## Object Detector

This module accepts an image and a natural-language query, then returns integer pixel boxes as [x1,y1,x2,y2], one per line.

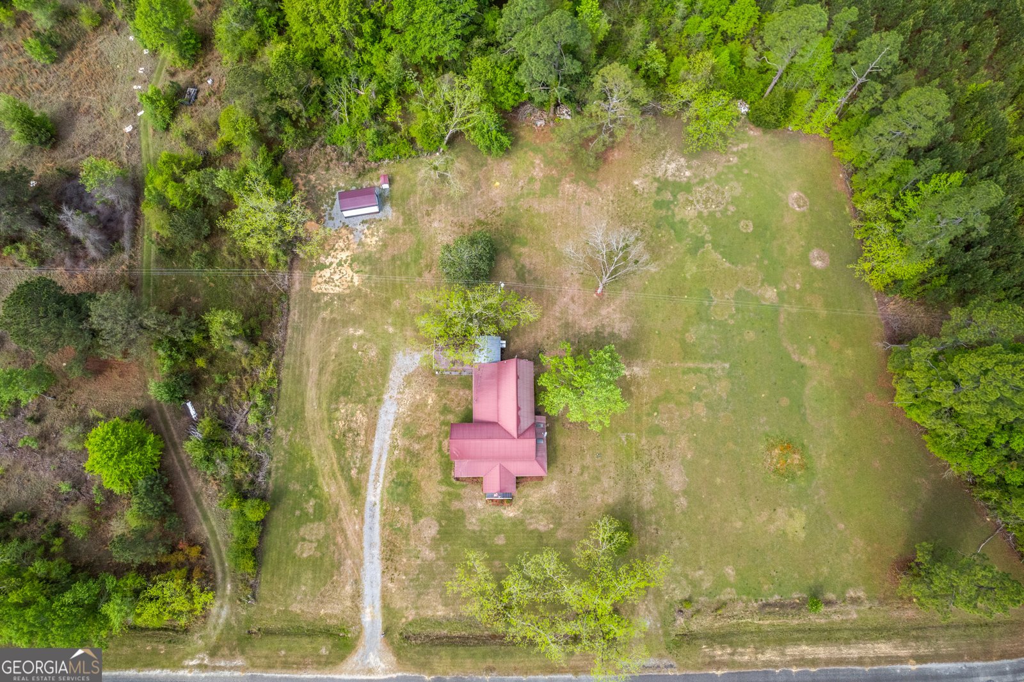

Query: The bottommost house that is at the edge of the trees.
[449,354,547,493]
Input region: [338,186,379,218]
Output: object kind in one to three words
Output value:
shed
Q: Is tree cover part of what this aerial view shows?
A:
Yes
